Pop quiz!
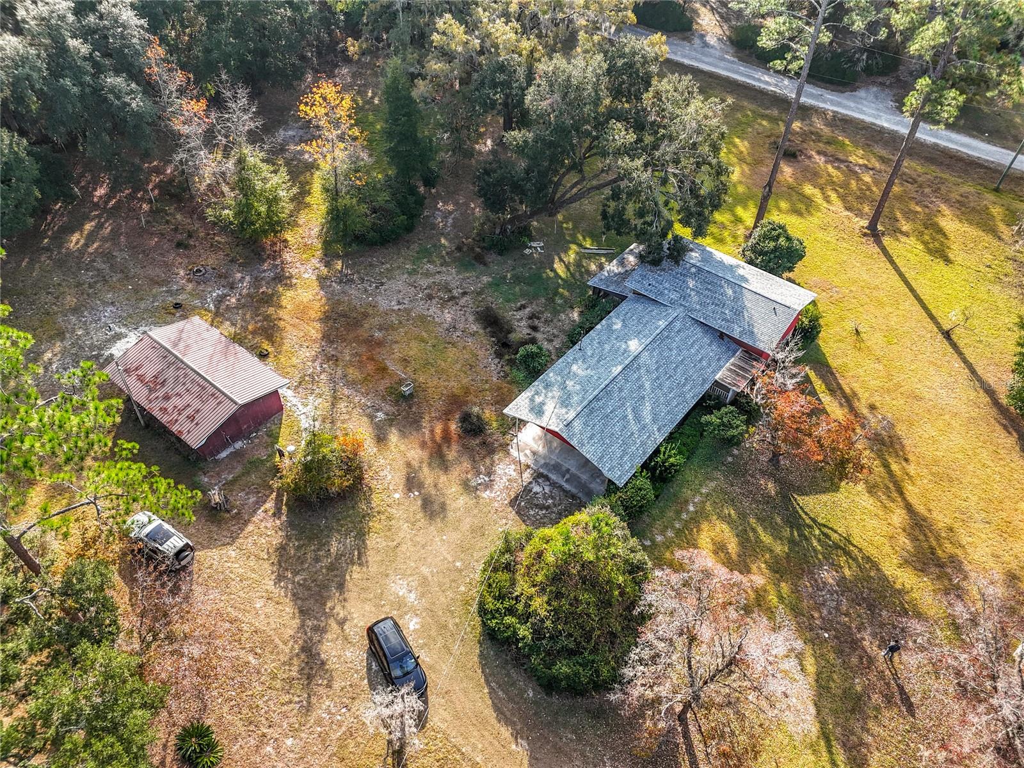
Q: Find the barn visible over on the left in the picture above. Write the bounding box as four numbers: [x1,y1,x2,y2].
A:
[101,316,292,464]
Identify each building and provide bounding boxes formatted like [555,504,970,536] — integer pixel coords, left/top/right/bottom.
[500,235,820,513]
[101,316,292,464]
